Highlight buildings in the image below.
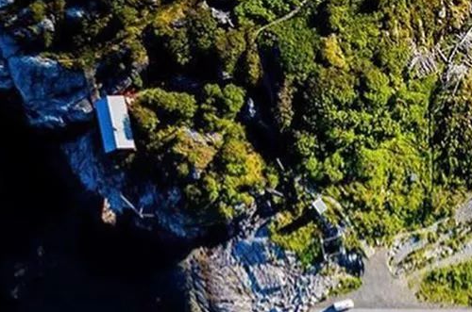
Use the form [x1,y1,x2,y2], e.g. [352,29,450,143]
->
[95,97,135,160]
[312,197,327,216]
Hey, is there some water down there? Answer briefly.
Yes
